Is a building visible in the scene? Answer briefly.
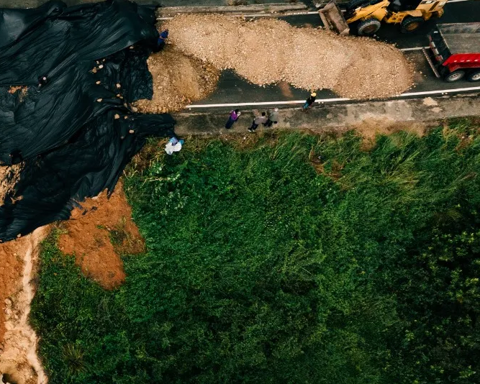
No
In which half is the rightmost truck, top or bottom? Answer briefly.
top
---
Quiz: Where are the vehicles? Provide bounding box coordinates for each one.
[323,0,442,35]
[414,27,480,80]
